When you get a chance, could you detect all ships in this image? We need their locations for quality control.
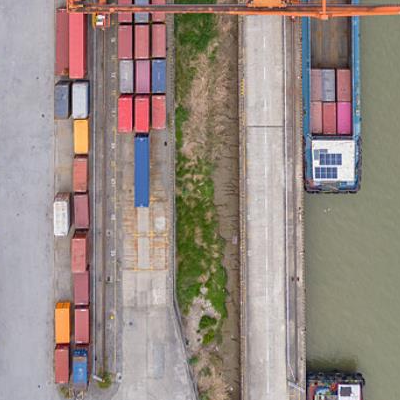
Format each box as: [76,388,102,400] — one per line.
[306,367,367,400]
[303,0,364,195]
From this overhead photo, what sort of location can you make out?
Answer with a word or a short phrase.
port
